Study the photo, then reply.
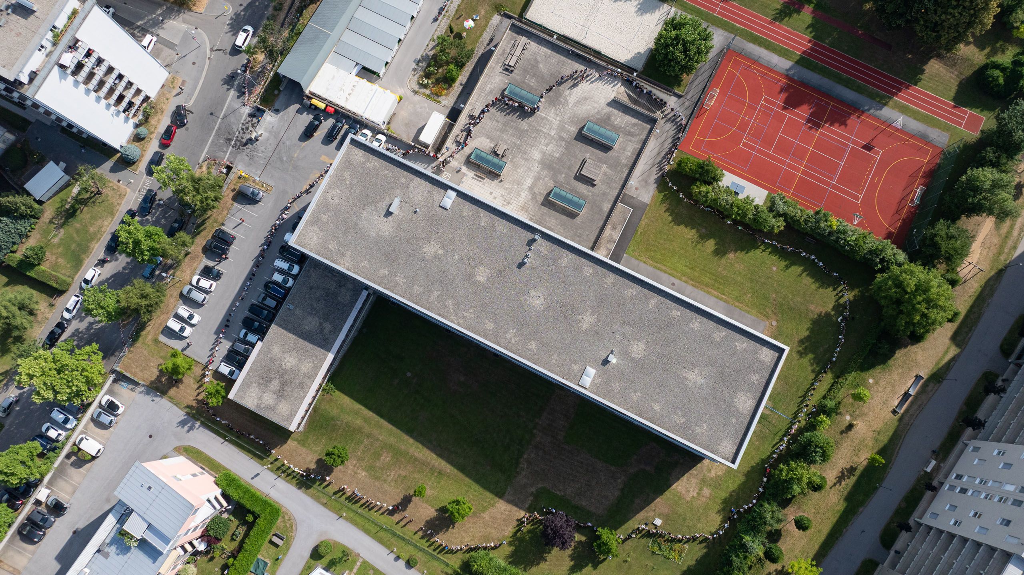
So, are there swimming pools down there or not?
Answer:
No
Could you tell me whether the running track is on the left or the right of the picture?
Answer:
right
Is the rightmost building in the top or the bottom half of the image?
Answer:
bottom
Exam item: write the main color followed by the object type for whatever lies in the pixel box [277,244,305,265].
black vehicle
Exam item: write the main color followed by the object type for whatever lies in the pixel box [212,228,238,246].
black car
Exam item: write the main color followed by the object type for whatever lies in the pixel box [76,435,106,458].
white vehicle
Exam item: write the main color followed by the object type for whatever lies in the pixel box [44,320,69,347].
black car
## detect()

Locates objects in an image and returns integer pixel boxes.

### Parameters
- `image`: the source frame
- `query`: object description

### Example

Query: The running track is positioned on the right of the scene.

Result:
[686,0,984,134]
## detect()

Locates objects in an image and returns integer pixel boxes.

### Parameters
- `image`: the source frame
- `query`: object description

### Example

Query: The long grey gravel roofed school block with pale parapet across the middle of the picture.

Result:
[290,135,788,470]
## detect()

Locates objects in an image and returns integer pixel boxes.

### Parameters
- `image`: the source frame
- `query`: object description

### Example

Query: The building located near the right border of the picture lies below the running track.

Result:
[902,309,1024,575]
